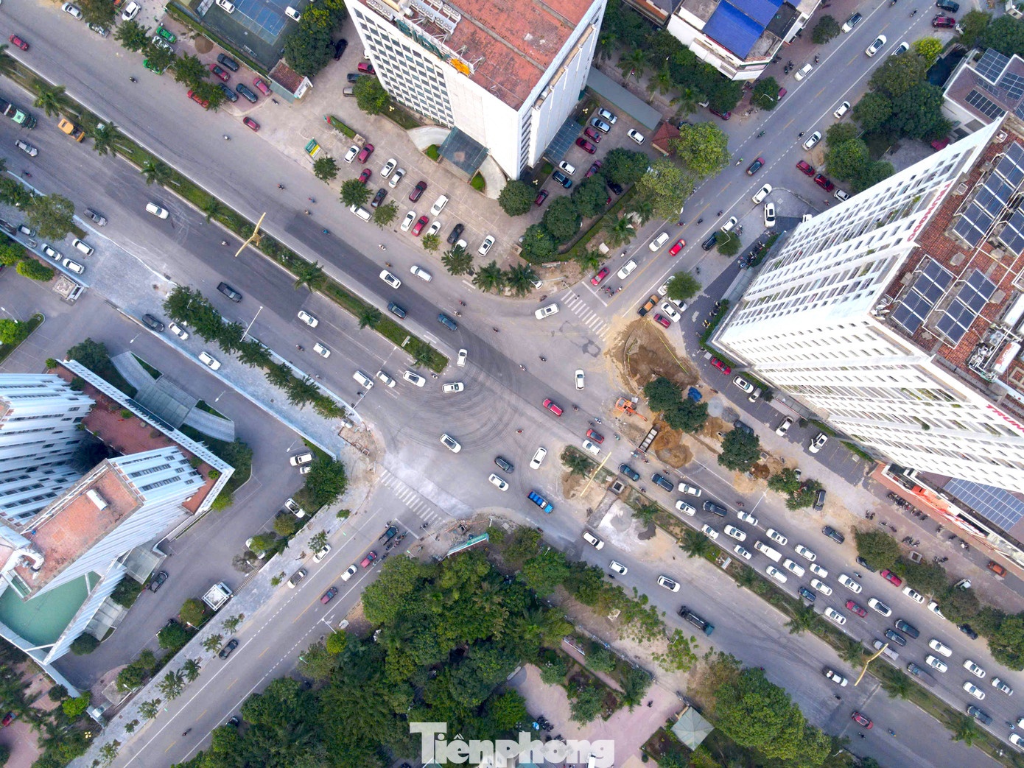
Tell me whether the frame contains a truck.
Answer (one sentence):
Yes, a truck can be made out from above.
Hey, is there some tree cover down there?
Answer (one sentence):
Yes, tree cover shows up in the scene.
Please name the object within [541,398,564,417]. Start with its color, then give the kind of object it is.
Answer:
red car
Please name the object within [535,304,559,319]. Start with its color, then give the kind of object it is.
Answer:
white car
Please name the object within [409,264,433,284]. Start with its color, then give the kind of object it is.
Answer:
white vehicle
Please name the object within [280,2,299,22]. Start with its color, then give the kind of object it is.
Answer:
white vehicle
